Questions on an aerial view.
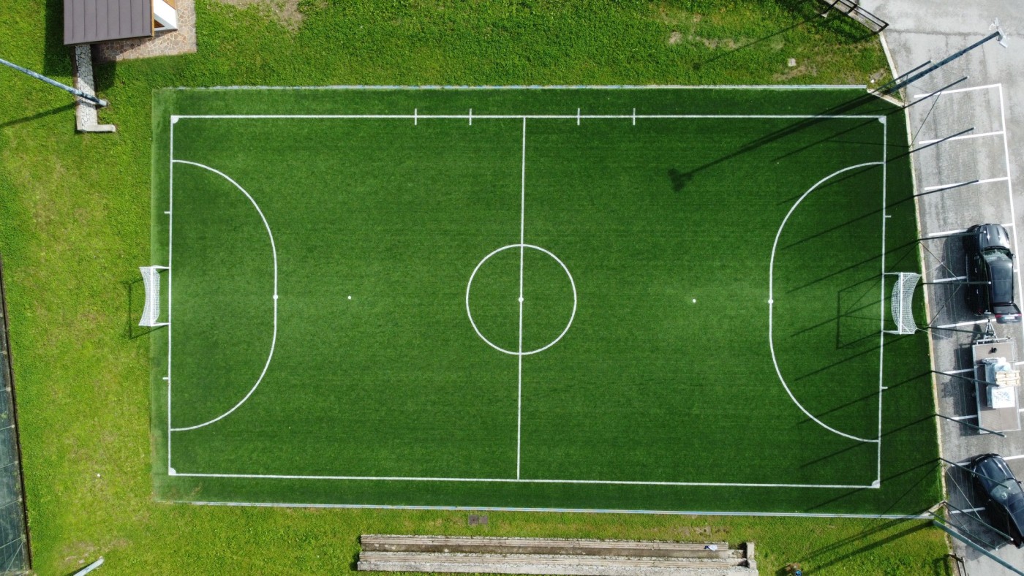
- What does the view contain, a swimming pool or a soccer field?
soccer field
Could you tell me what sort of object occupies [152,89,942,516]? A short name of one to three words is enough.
soccer field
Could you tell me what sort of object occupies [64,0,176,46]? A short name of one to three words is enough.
shed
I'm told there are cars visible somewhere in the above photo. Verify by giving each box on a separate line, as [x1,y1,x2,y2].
[972,454,1024,547]
[961,222,1021,324]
